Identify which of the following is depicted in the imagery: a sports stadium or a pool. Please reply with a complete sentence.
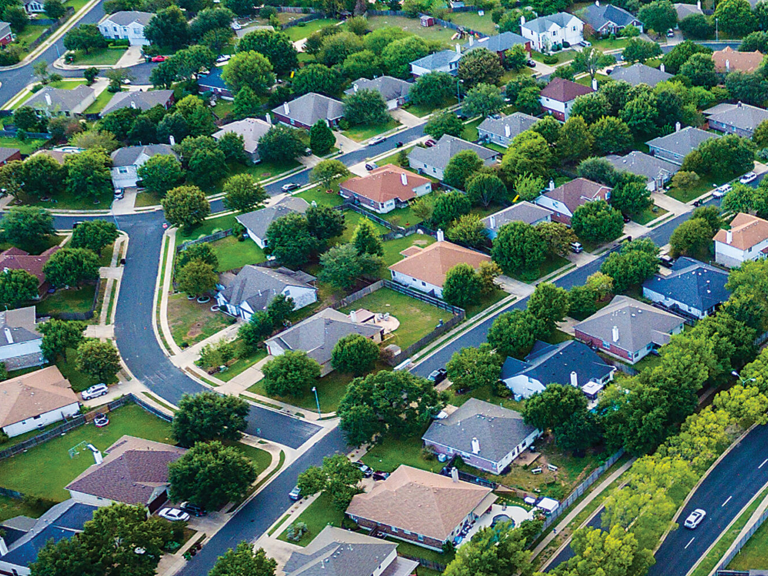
The one in the frame is a pool.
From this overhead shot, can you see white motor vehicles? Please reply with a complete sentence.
Yes, I can see a white motor vehicle in this picture.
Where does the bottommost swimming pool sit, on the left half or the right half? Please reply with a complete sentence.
You can find the bottommost swimming pool on the right side of the picture.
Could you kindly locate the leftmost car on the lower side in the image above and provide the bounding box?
[81,382,110,400]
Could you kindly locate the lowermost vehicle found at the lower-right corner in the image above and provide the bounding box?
[684,508,705,529]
